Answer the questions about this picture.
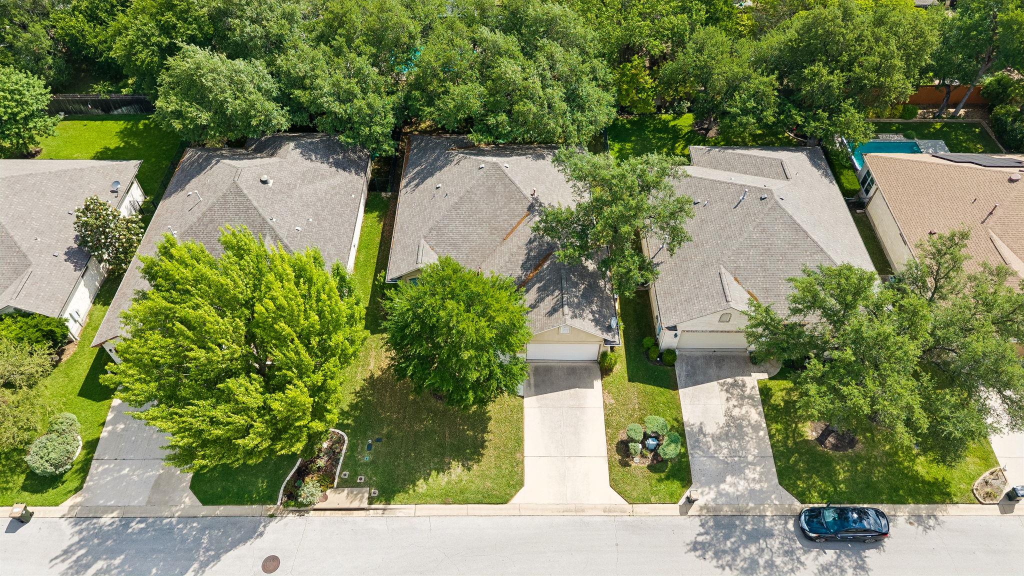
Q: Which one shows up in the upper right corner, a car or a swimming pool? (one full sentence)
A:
Visible in the upper right corner is a swimming pool.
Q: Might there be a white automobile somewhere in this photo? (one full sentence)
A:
No, there's no white automobile here.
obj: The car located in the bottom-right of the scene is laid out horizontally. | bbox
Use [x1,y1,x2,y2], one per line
[797,504,896,548]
